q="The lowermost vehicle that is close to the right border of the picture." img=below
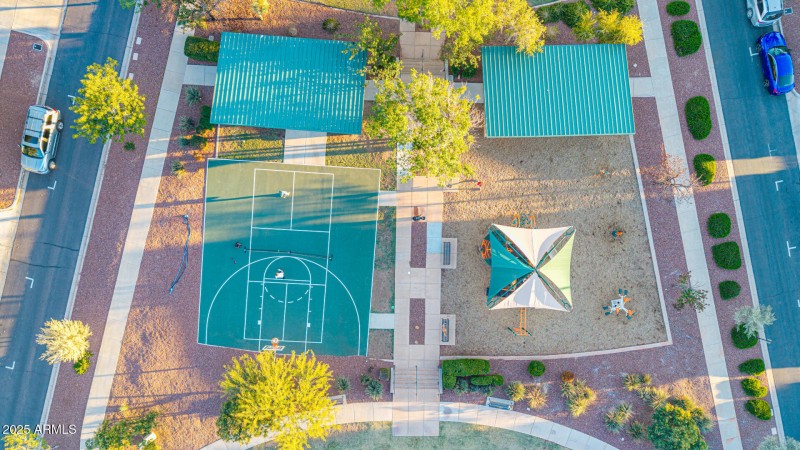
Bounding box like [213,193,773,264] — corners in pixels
[756,29,797,92]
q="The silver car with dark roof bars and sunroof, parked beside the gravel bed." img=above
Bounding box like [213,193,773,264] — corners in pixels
[20,106,63,173]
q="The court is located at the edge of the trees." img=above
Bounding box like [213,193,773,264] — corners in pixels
[198,159,380,356]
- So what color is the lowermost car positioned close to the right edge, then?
blue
